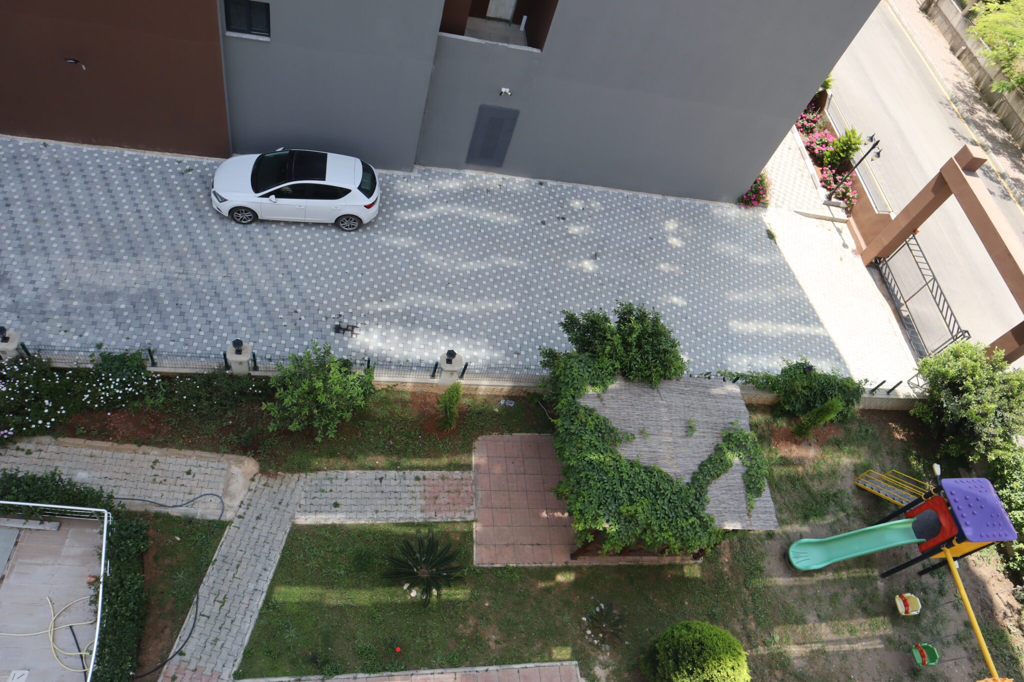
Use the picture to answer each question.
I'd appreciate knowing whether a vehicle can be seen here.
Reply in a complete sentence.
Yes, looking at the shot, I can spot a vehicle.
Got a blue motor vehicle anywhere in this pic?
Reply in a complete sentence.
No, the picture doesn't show any blue motor vehicle.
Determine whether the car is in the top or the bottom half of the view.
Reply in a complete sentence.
It is in the top half that the car appears.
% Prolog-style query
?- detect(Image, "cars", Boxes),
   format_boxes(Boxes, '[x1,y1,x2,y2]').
[211,145,381,232]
